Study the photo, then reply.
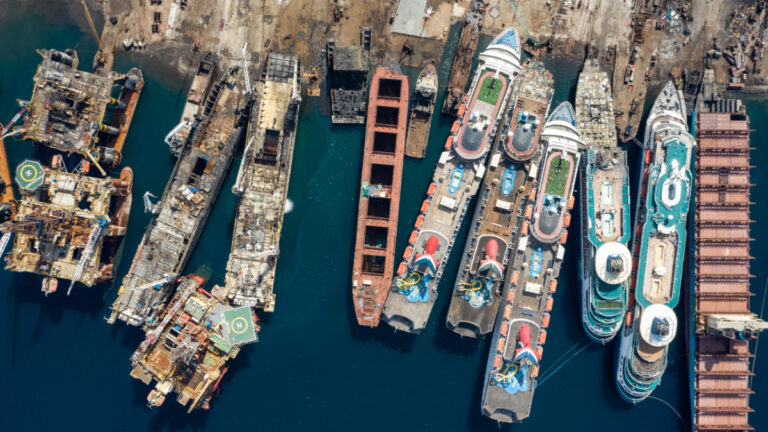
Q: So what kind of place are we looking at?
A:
port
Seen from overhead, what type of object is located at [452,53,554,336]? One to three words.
ship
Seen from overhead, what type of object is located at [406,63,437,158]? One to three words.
ship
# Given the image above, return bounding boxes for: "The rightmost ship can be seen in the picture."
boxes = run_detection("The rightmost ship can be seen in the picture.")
[683,66,768,432]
